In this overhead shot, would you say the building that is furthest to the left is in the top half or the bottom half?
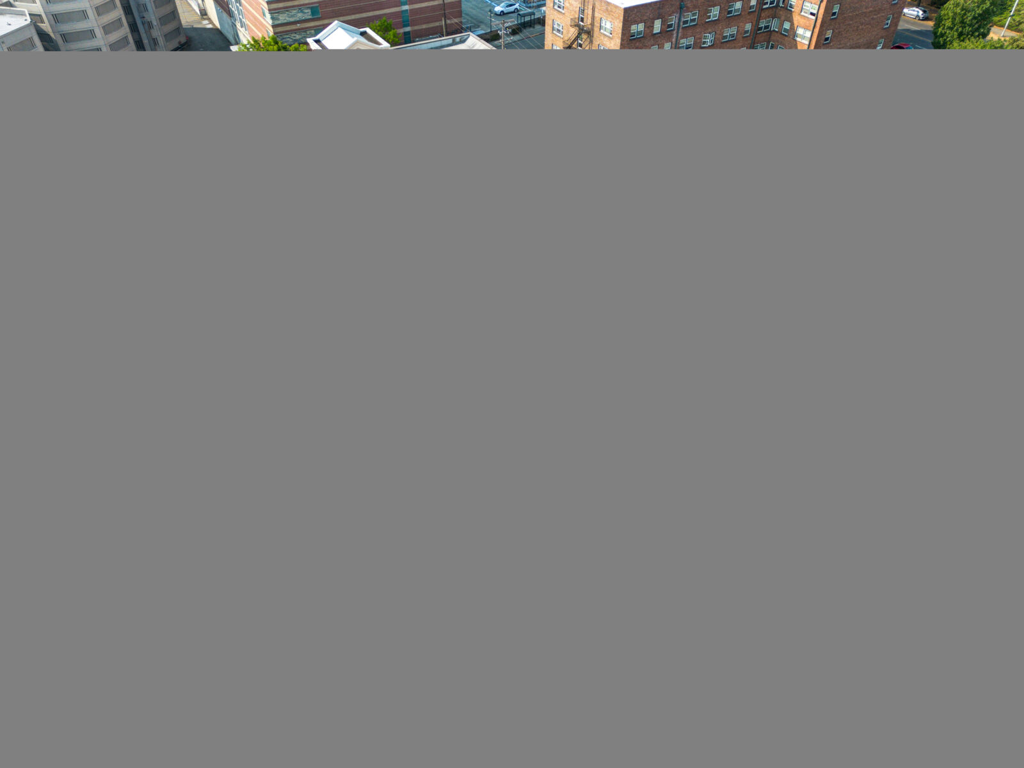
top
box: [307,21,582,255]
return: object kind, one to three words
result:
building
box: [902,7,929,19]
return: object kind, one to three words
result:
vehicle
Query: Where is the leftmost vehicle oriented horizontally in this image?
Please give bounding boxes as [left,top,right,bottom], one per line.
[494,2,520,15]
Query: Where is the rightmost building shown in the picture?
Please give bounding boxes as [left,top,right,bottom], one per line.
[544,0,907,147]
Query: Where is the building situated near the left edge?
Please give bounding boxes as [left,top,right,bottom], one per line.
[0,0,187,145]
